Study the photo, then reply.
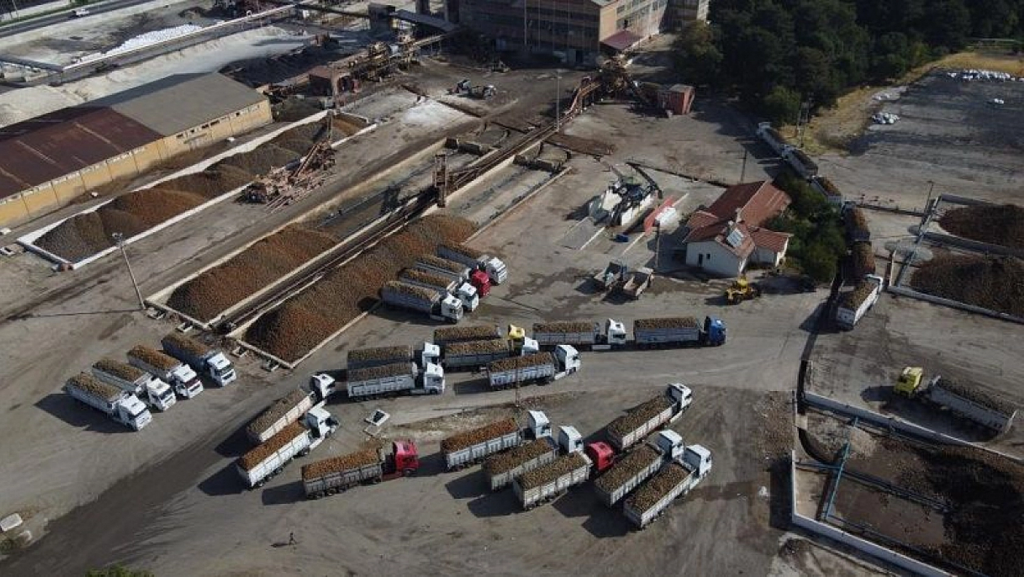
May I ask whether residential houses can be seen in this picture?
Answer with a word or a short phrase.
Yes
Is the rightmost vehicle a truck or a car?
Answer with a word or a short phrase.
truck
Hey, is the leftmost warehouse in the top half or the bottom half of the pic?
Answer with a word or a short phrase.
top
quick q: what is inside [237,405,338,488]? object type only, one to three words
truck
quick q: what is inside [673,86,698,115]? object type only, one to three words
shed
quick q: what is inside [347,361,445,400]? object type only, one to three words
truck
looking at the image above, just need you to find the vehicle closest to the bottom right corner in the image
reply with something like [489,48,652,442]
[895,373,1015,436]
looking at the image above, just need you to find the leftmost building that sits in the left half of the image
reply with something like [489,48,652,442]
[0,75,264,227]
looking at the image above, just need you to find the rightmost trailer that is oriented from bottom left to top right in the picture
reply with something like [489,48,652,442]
[837,275,876,324]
